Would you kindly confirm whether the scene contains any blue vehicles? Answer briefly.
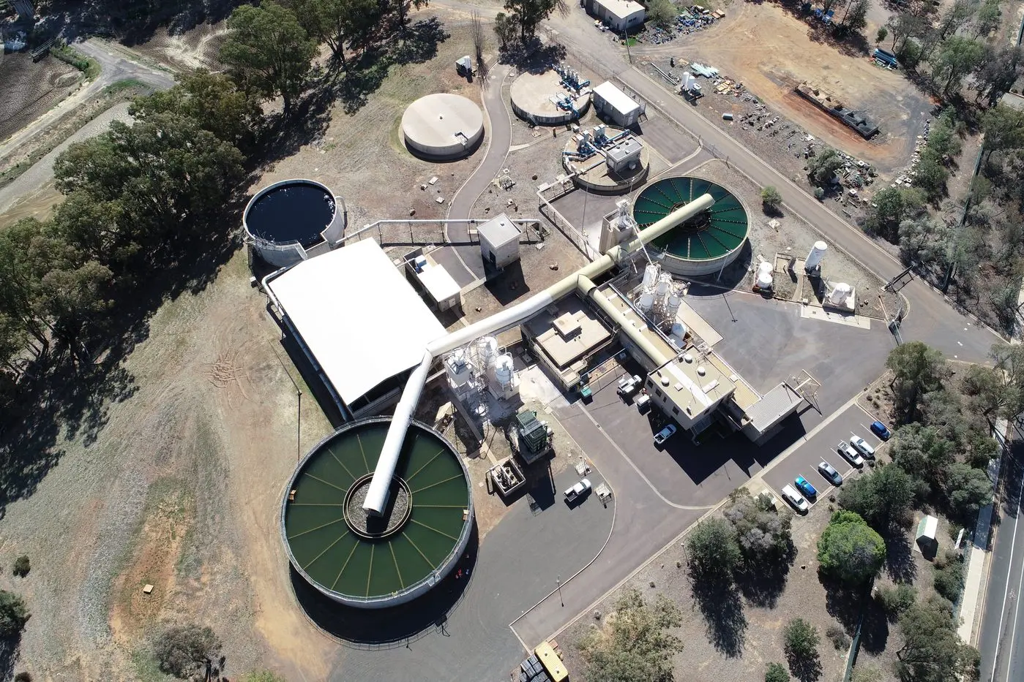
Yes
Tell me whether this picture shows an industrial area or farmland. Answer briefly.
industrial area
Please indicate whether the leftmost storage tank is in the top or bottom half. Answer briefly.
top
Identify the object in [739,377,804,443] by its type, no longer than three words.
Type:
building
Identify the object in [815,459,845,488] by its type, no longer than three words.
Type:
car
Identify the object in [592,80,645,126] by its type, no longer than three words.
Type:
building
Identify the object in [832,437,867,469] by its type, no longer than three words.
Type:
truck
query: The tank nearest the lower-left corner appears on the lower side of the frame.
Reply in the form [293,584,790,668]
[275,410,476,609]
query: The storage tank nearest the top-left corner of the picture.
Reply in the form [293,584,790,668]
[243,179,351,293]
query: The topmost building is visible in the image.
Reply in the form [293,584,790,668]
[574,0,645,34]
